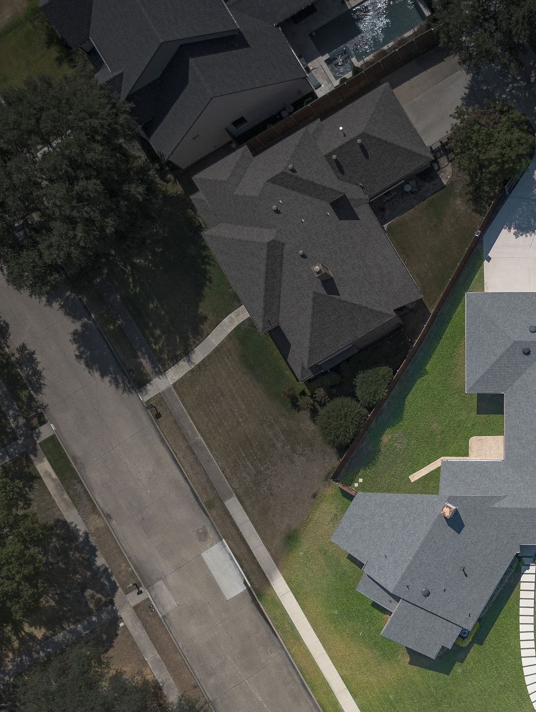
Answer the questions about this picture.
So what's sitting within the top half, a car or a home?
home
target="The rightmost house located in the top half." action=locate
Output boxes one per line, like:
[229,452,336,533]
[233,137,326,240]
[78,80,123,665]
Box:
[191,82,433,383]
